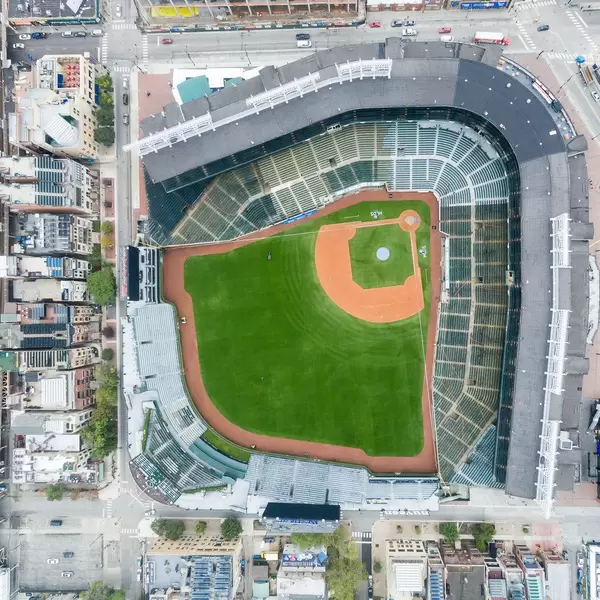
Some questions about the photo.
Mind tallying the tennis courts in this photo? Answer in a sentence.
I count no tennis courts.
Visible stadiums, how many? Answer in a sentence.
The photo contains exactly 1 stadium.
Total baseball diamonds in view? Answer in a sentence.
The picture shows 1 baseball diamond.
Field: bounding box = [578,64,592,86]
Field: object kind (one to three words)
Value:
vehicle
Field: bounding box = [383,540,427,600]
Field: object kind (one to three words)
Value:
building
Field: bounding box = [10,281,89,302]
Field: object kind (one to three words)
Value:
building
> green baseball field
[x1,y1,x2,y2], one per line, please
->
[165,189,445,474]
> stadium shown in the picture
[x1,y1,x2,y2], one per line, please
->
[120,36,595,514]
